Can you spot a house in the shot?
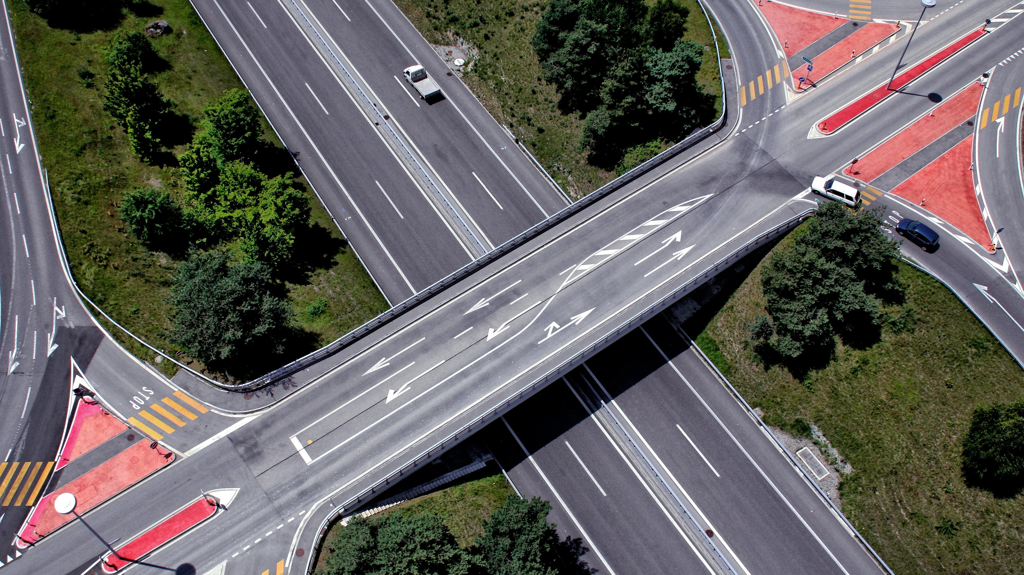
No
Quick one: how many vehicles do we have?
3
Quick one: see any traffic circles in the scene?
No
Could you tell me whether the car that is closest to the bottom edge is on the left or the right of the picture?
right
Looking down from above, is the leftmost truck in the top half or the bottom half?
top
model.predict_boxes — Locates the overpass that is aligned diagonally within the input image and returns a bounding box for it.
[169,58,849,575]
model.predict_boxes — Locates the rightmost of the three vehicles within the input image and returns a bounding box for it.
[896,218,944,254]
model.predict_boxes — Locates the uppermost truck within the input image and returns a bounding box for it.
[403,65,441,101]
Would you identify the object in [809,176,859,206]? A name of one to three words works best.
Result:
car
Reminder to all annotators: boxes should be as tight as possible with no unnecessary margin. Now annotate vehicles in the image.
[896,218,944,254]
[403,65,441,101]
[809,176,859,206]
